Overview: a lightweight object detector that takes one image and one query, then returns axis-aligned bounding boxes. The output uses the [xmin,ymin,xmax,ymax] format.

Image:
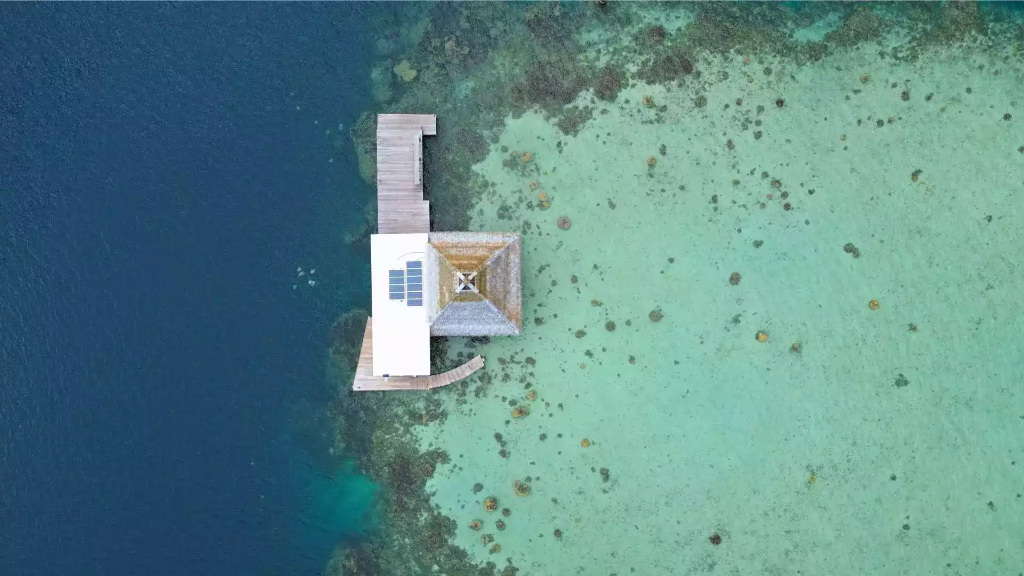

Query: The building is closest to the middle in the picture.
[424,231,521,337]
